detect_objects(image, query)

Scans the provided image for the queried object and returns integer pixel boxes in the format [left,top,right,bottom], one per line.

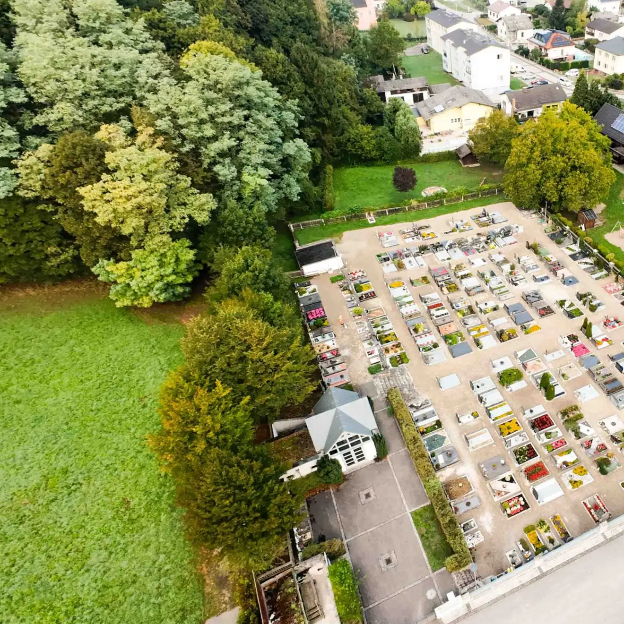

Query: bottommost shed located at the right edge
[576,207,600,229]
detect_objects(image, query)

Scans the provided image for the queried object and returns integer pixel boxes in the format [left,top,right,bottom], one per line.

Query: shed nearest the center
[294,239,344,280]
